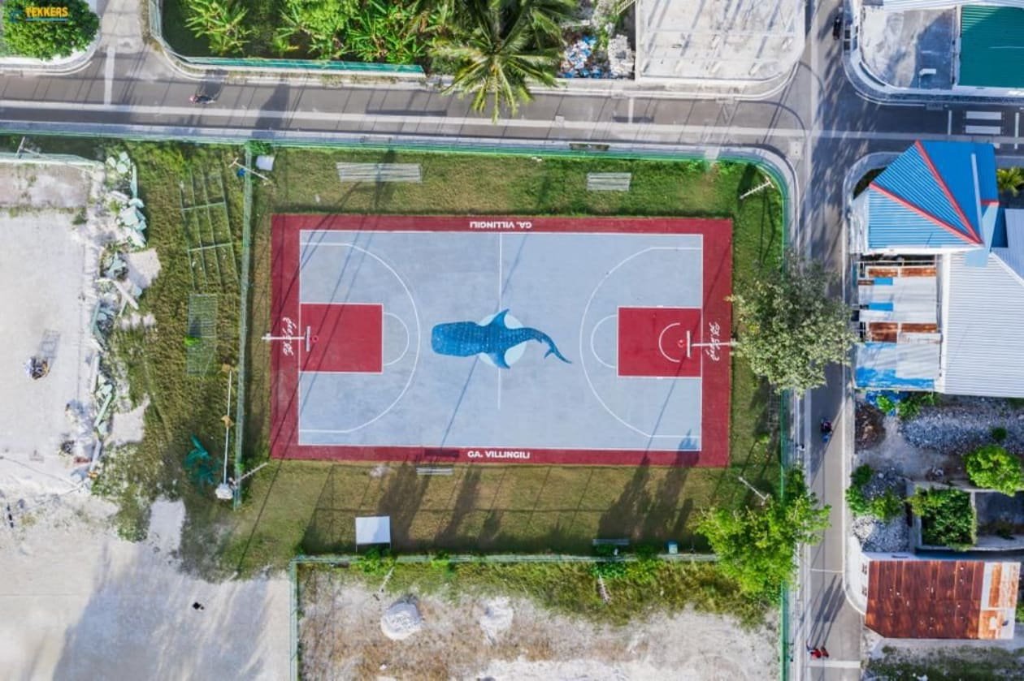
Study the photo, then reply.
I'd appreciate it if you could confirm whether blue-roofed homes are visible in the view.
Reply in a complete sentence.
Yes, a blue-roofed home is visible in the scene.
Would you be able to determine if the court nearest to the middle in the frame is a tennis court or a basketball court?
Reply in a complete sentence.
The court nearest to the middle appears to be a basketball court.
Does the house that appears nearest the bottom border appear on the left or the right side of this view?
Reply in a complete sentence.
The house that appears nearest the bottom border sits on the right side.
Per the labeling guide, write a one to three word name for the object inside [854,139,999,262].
house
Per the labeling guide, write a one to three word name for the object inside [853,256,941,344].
shed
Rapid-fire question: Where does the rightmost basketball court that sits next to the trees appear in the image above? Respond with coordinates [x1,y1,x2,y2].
[270,215,732,467]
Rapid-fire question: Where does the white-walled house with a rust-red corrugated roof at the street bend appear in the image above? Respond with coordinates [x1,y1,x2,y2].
[852,553,1022,640]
